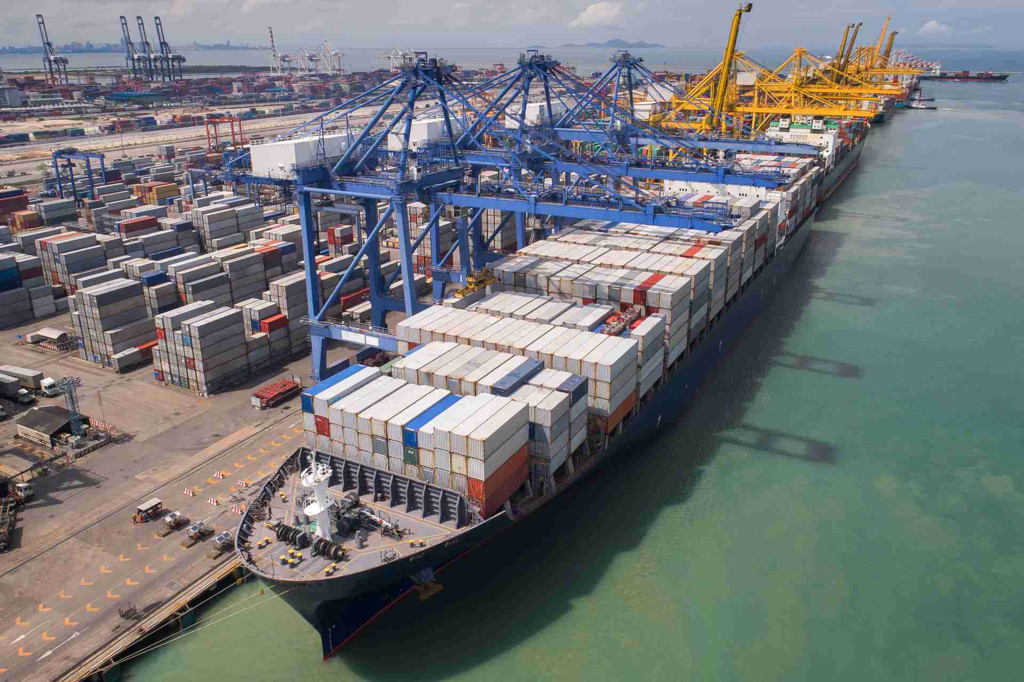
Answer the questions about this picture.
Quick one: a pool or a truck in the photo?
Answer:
truck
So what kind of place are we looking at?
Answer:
port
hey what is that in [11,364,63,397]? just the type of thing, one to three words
truck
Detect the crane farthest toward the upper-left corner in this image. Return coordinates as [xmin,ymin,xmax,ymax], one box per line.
[36,15,72,86]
